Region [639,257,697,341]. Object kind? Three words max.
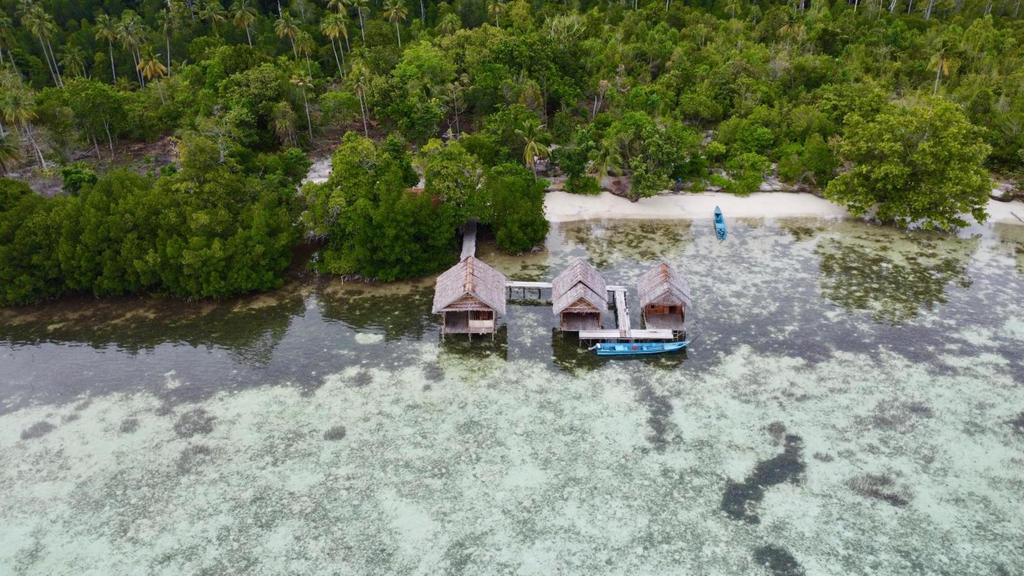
shed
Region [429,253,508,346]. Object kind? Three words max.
shed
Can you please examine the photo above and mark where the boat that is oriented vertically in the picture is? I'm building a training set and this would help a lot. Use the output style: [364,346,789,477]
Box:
[714,201,728,244]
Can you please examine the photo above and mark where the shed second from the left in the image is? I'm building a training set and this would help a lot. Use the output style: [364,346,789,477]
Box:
[553,255,612,342]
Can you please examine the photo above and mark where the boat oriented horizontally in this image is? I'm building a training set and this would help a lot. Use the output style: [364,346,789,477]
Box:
[585,341,689,356]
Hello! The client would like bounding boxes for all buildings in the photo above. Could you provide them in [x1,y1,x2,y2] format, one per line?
[553,255,612,342]
[639,257,697,341]
[429,253,508,346]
